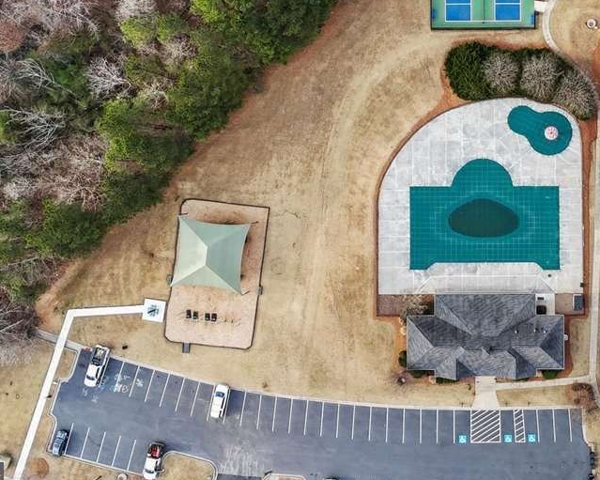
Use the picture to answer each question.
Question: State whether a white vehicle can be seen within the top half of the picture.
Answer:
No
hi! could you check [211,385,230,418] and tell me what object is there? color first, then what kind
white car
